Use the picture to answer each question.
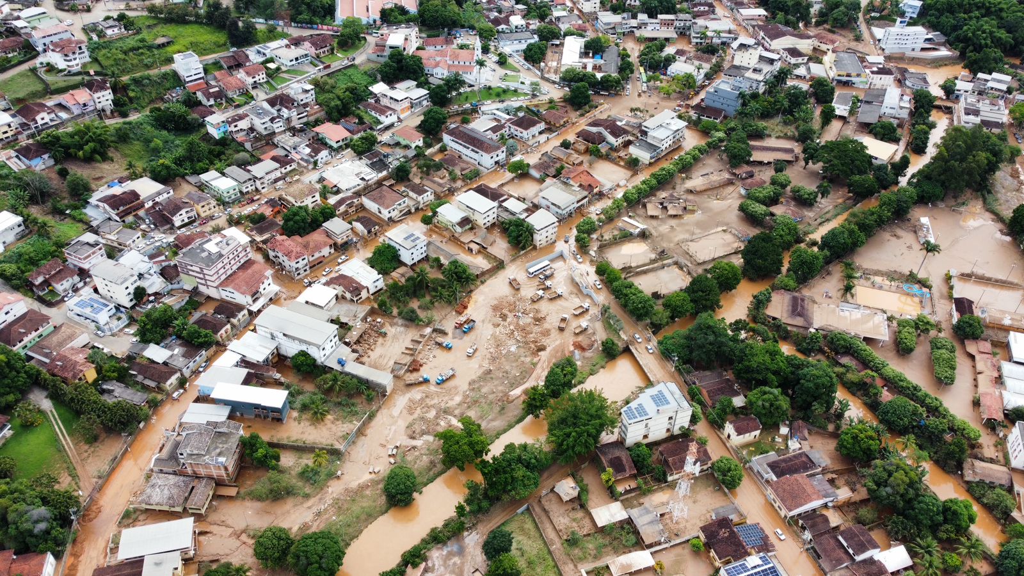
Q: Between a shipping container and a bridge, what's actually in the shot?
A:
bridge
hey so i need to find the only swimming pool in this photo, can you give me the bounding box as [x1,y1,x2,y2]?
[856,285,921,315]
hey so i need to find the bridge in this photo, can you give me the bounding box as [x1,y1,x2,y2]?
[605,316,692,388]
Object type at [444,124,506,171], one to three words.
building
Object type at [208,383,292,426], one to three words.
house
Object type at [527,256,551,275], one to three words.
vehicle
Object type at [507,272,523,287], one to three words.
vehicle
